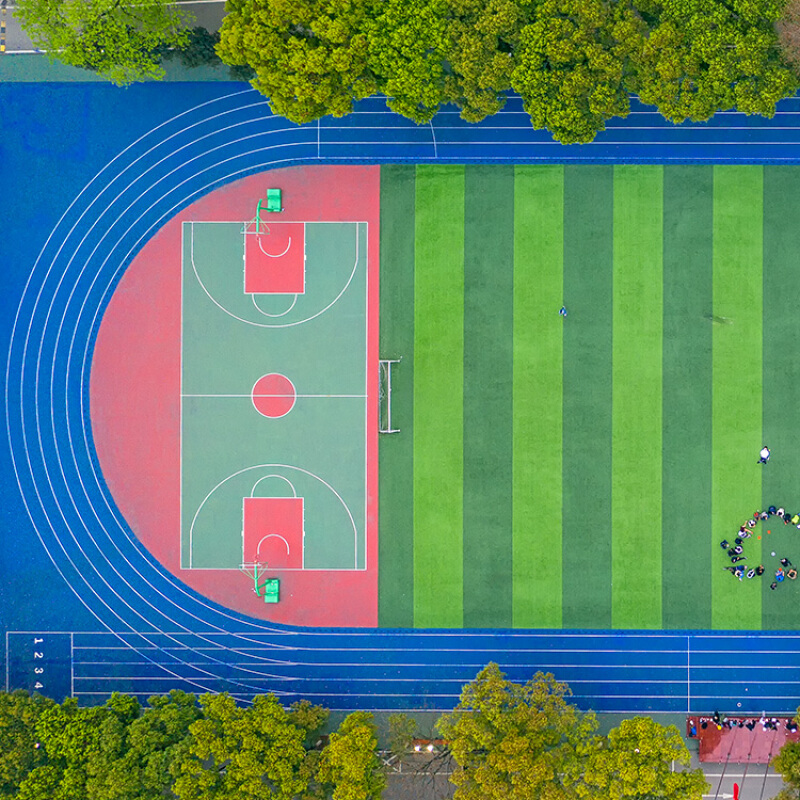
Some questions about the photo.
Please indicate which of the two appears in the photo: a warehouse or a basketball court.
basketball court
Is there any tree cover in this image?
Yes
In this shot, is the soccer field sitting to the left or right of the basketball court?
right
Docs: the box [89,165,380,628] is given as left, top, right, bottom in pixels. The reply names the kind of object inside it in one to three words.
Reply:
basketball court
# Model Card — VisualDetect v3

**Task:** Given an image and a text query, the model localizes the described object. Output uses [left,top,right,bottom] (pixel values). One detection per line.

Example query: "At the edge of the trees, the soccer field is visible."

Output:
[380,165,800,630]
